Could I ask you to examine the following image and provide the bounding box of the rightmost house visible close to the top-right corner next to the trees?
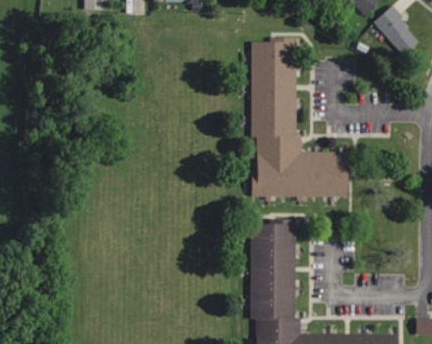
[374,4,419,49]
